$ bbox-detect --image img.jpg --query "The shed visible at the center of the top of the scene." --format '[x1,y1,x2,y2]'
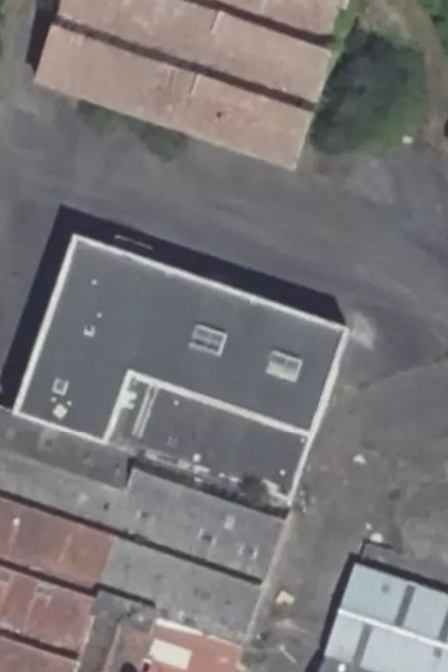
[33,0,350,171]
